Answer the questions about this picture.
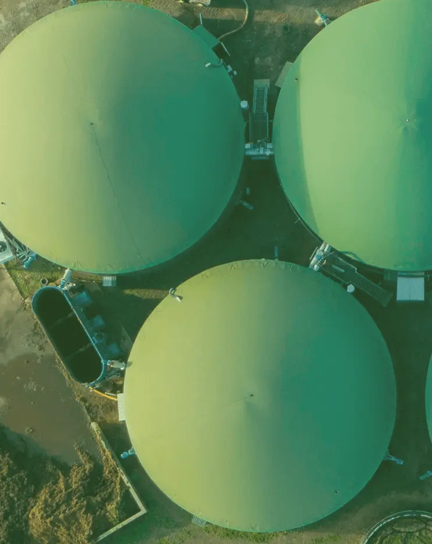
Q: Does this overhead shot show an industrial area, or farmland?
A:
industrial area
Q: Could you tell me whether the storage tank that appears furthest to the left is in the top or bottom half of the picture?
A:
top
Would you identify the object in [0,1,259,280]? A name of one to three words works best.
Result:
storage tank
